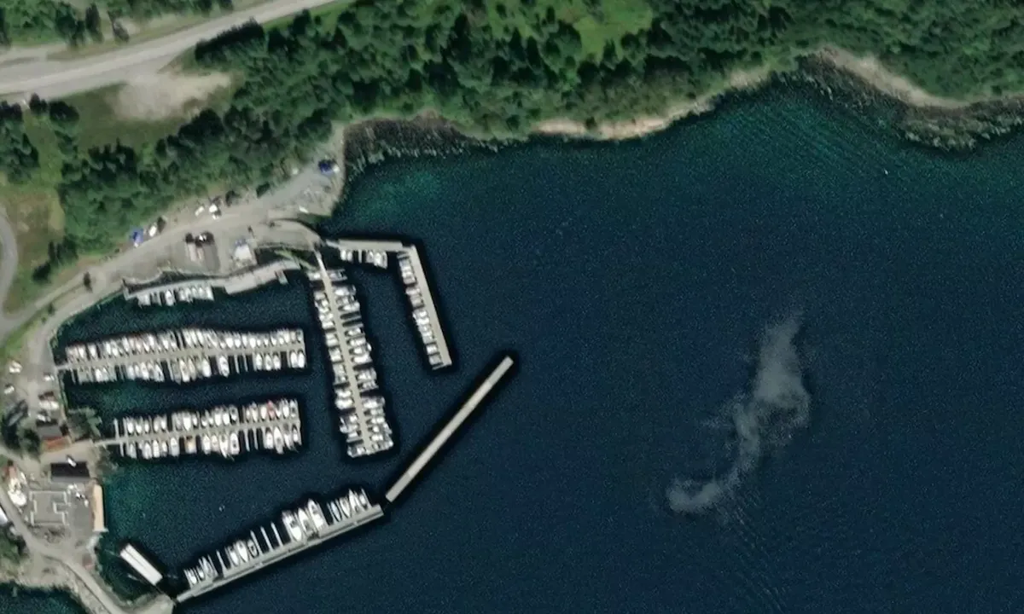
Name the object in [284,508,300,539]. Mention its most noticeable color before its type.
white boat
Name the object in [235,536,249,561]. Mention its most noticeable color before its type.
white boat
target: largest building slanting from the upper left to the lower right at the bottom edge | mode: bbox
[120,544,163,585]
